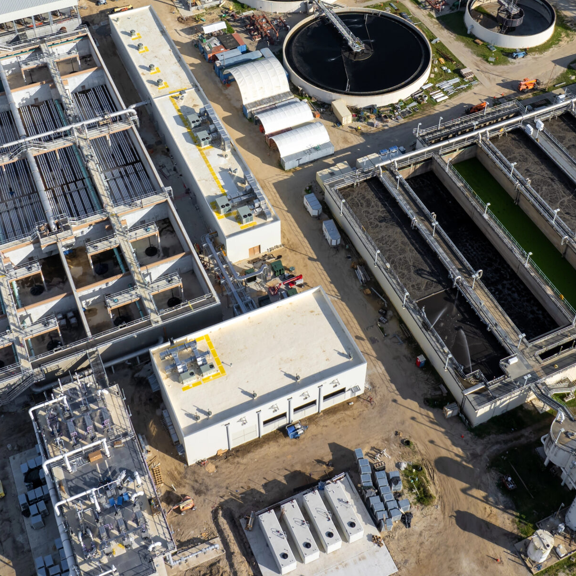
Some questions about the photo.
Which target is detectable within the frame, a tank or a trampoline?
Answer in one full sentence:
The image shows a tank.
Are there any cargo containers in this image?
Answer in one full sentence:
Yes, a cargo container appears in the view.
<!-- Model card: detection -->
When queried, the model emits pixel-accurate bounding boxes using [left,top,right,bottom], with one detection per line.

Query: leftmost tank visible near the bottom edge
[259,509,297,576]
